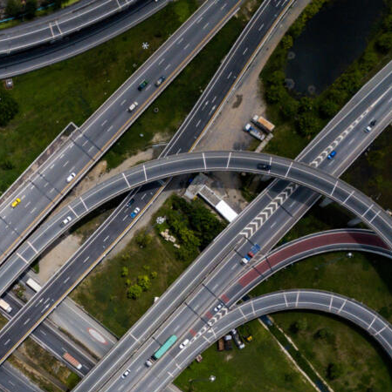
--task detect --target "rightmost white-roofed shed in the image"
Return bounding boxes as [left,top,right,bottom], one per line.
[214,199,239,226]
